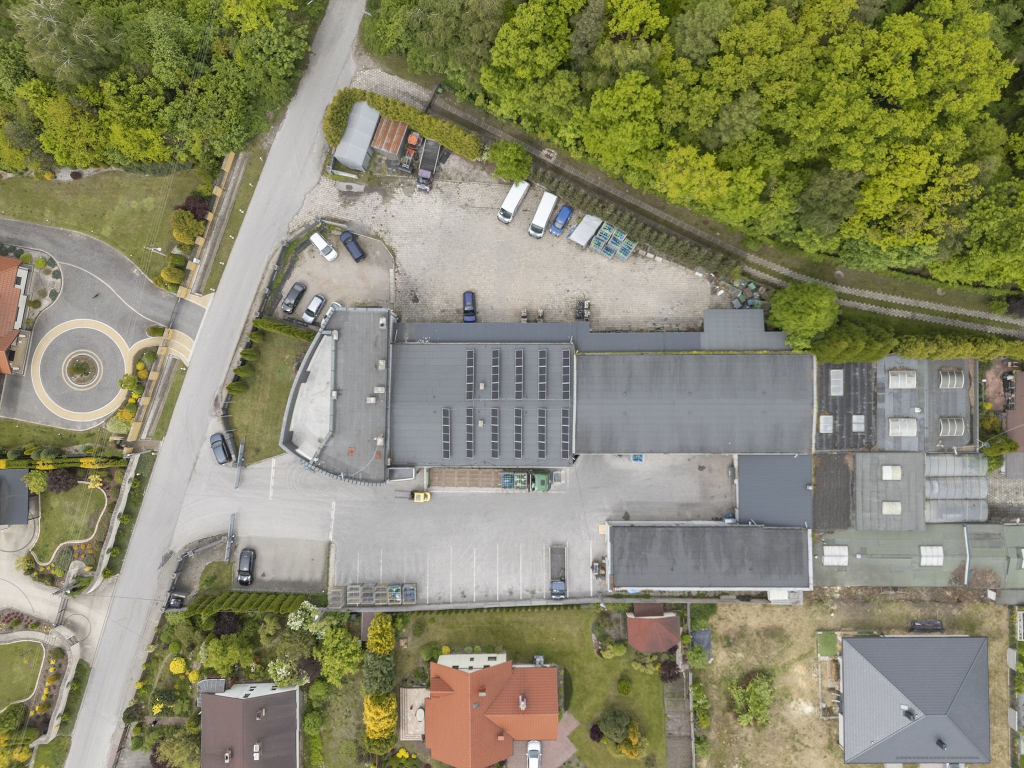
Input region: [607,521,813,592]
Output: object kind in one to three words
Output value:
building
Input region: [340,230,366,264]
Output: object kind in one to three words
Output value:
car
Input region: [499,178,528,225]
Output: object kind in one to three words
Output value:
van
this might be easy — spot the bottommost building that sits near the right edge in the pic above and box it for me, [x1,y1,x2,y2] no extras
[837,632,988,765]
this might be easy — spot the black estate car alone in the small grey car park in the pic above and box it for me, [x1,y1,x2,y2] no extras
[235,547,255,584]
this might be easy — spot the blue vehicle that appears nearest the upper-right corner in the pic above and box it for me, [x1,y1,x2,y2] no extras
[551,204,573,237]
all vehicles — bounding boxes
[426,470,552,492]
[551,204,573,237]
[529,190,558,240]
[302,293,326,325]
[397,492,431,502]
[548,544,568,598]
[209,432,232,466]
[416,138,443,195]
[525,740,542,768]
[461,292,477,323]
[340,230,366,264]
[282,281,307,315]
[318,301,341,330]
[499,178,528,225]
[400,130,423,179]
[310,230,337,263]
[235,547,255,584]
